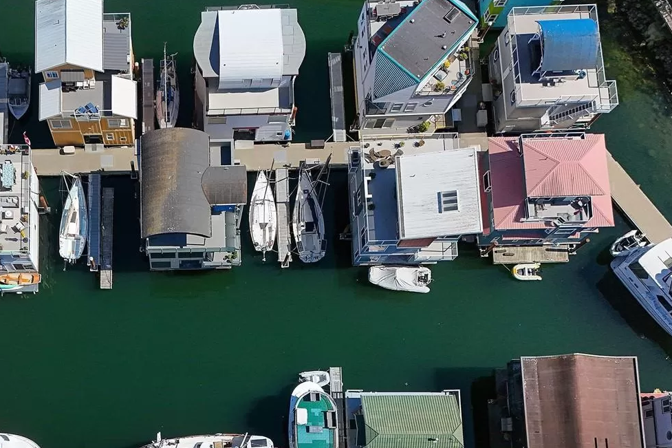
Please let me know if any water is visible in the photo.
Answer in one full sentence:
Yes, water can be seen from above here.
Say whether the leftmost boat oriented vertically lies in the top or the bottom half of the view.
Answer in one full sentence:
Seen from above, the leftmost boat oriented vertically lies in the top half of the view.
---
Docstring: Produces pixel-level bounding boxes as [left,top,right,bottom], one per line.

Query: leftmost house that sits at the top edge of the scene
[34,0,138,150]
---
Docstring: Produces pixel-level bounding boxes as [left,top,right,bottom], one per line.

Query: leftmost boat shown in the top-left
[6,61,30,119]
